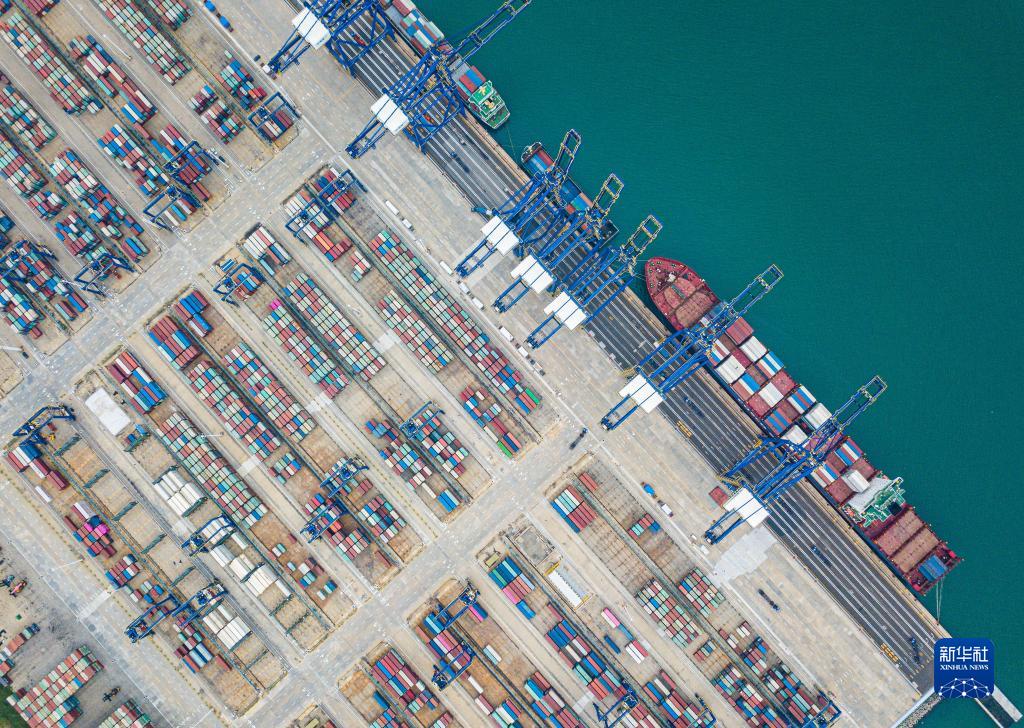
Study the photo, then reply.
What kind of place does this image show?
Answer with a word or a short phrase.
port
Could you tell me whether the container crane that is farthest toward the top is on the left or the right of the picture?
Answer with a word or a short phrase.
left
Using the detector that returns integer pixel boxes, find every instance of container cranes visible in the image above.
[701,374,890,548]
[74,251,136,298]
[524,216,664,351]
[592,676,639,728]
[176,511,239,565]
[317,169,367,218]
[115,591,185,652]
[320,452,372,498]
[163,140,219,189]
[435,576,483,629]
[298,497,350,545]
[426,636,475,692]
[455,130,585,276]
[664,693,715,728]
[345,0,529,155]
[398,399,445,441]
[176,575,237,630]
[287,201,337,248]
[268,0,396,73]
[248,92,299,143]
[784,685,840,728]
[490,174,625,314]
[144,183,200,231]
[215,263,268,307]
[0,238,59,282]
[597,261,785,433]
[14,400,79,444]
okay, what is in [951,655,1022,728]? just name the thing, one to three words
pier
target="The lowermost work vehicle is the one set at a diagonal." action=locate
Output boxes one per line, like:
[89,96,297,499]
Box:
[93,686,116,708]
